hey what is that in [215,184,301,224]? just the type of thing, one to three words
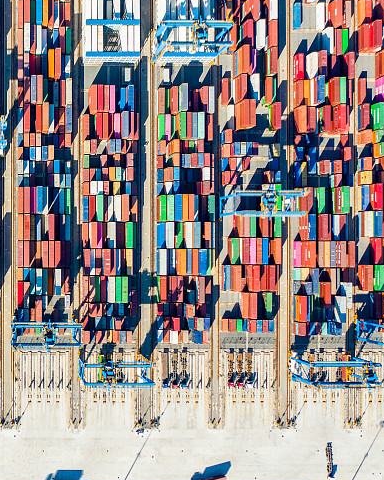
container crane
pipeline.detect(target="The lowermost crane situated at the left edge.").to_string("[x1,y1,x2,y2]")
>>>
[12,310,85,353]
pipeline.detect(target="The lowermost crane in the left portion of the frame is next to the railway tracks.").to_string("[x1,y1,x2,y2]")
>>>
[78,348,156,394]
